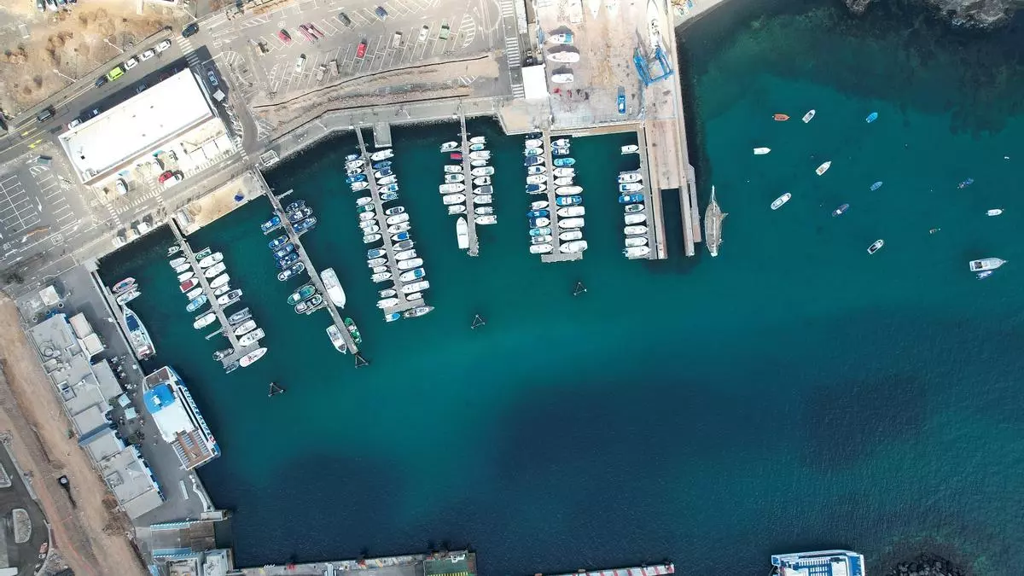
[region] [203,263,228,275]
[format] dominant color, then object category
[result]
white boat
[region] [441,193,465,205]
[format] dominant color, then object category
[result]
white boat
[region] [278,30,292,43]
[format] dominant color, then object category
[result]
red vehicle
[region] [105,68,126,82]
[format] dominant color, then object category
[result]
green vehicle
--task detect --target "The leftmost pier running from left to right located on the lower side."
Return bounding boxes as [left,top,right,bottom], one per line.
[236,546,476,576]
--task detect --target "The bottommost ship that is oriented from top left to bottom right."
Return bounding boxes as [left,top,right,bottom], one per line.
[142,365,223,465]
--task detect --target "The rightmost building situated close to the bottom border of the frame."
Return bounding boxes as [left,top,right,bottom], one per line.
[202,542,236,576]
